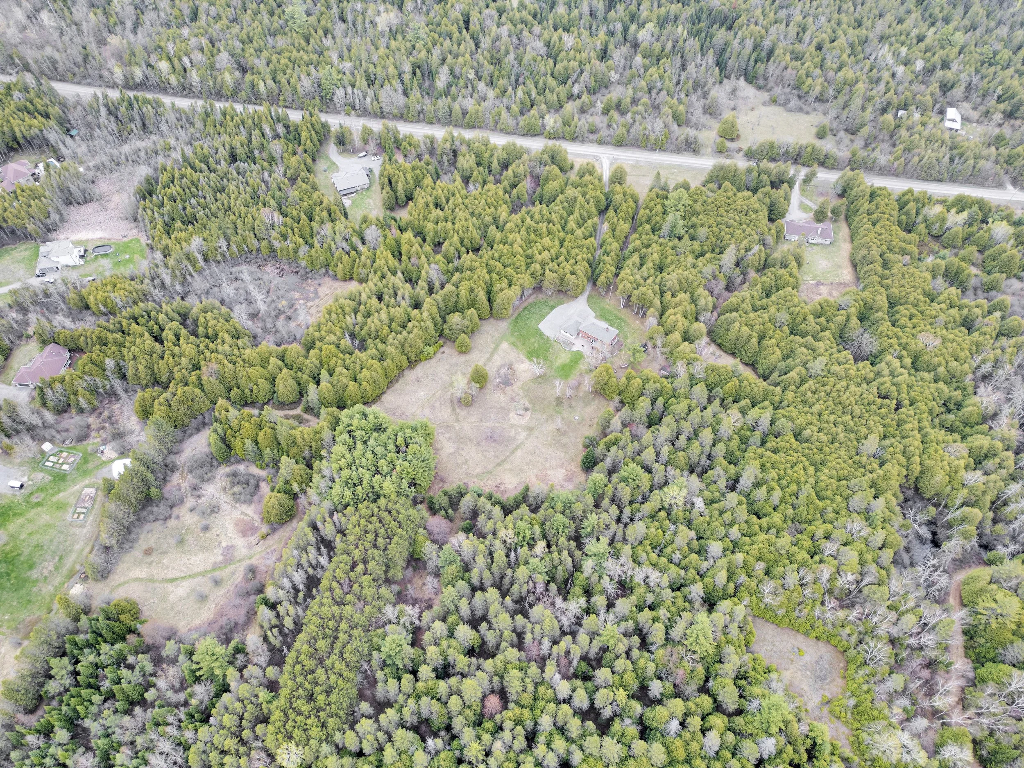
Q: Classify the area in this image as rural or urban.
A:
rural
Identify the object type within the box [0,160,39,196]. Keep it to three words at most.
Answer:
house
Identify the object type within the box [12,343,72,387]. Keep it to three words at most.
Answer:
house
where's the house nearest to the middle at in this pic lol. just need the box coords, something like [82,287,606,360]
[561,316,620,356]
